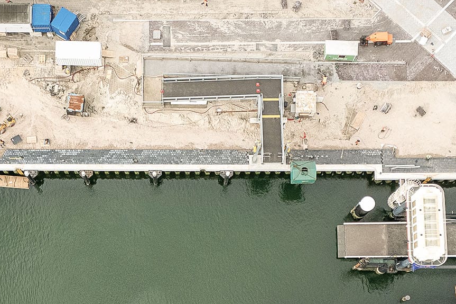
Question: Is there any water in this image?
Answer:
Yes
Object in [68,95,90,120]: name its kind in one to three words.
shed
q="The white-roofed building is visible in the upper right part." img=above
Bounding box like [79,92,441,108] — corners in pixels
[321,40,358,65]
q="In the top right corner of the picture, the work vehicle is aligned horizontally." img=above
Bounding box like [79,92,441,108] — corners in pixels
[357,28,397,47]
